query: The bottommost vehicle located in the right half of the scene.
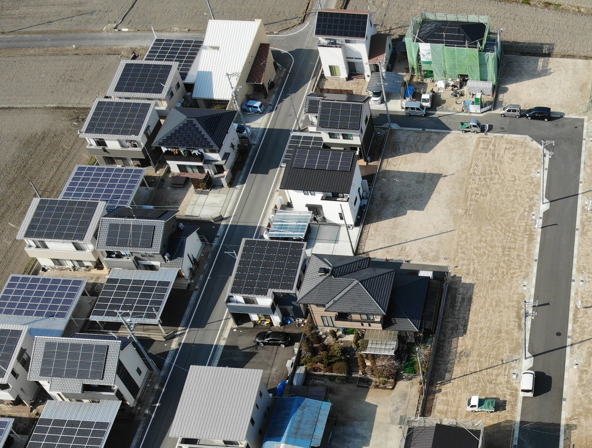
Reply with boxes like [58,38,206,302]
[467,396,495,412]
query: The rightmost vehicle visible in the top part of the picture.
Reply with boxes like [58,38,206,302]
[525,104,554,120]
